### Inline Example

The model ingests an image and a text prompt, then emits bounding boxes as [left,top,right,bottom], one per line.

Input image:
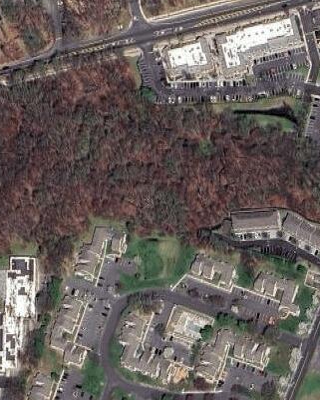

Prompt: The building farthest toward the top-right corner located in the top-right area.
[221,19,294,69]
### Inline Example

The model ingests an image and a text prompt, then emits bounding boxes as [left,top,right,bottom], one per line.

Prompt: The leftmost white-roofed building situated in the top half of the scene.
[169,43,208,70]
